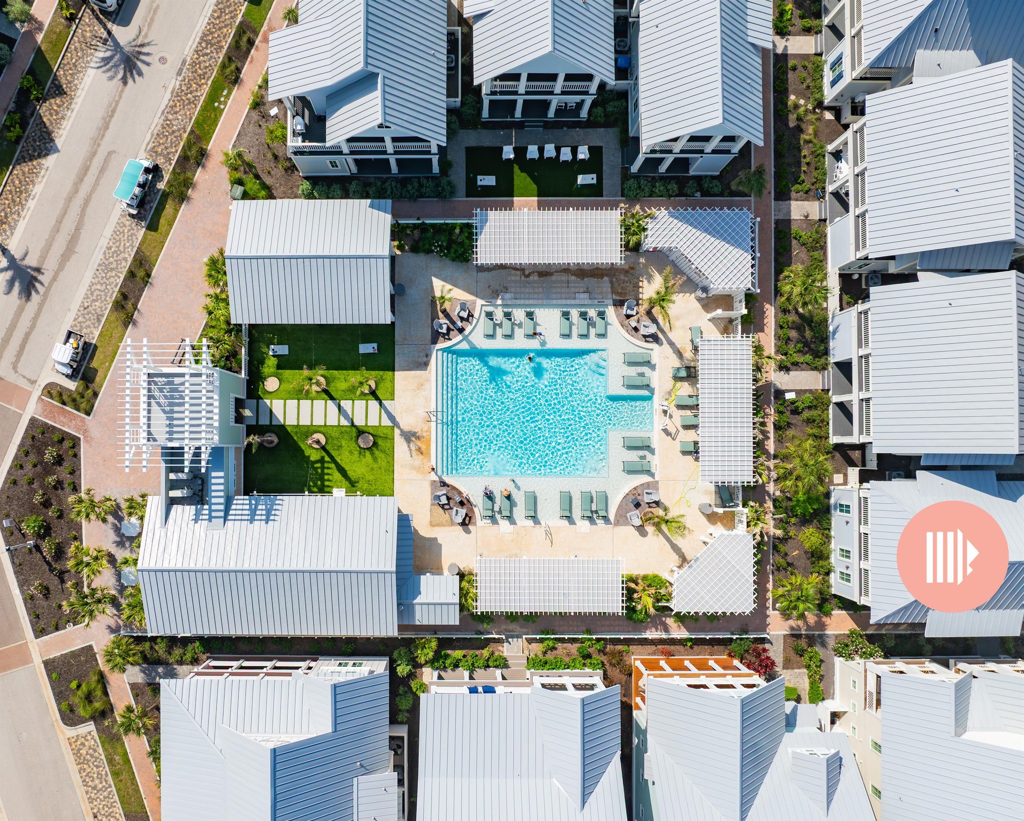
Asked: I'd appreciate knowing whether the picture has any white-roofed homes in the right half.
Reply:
Yes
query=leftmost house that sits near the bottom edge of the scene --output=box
[159,657,411,821]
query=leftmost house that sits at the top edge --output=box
[269,0,447,178]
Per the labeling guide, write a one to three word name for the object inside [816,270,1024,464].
house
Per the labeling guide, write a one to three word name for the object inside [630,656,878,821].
house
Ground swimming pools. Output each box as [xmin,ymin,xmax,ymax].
[437,305,653,520]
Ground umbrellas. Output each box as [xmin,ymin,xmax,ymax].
[120,565,139,588]
[121,516,144,539]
